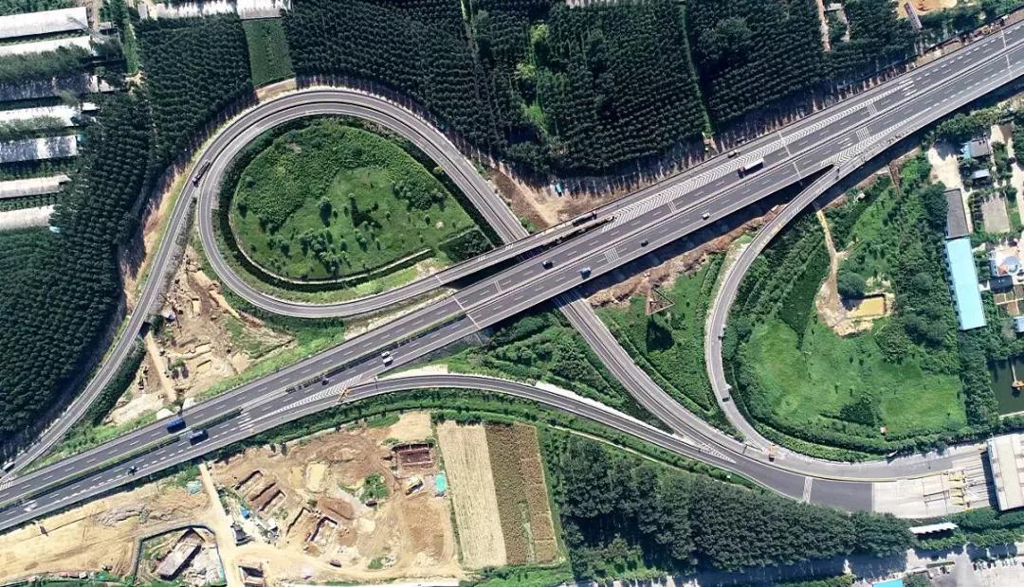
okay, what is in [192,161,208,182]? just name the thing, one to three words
vehicle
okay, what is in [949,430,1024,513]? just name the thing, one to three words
toll station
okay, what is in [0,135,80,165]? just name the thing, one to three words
greenhouse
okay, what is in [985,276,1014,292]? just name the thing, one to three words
house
